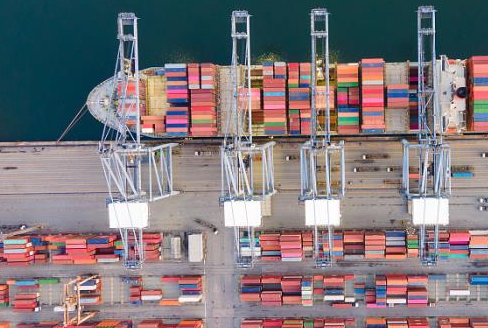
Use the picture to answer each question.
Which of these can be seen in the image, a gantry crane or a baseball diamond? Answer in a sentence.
Of the two, only a gantry crane appears.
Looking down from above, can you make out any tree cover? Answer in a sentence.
No, tree cover can't be seen anywhere here.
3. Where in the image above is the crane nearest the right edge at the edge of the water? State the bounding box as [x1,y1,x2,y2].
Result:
[396,4,452,269]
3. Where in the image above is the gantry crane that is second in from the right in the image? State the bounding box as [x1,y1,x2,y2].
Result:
[297,6,350,269]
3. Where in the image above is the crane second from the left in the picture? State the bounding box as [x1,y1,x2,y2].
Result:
[92,11,187,269]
